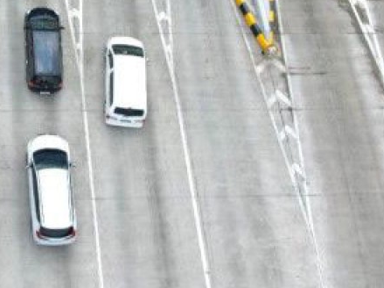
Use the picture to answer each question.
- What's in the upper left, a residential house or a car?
car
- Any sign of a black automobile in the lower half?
No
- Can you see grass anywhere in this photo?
No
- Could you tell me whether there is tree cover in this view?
No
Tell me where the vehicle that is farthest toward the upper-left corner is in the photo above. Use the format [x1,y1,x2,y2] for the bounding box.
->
[19,8,66,96]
